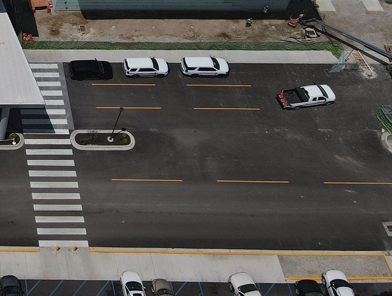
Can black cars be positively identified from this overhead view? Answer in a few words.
Yes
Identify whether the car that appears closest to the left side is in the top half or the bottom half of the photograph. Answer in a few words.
bottom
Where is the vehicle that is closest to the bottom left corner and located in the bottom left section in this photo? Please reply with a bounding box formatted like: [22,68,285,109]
[0,274,23,296]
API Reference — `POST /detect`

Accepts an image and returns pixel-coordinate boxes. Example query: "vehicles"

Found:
[321,267,362,296]
[121,57,172,81]
[151,278,179,296]
[227,271,257,296]
[119,270,145,296]
[294,279,324,296]
[67,59,116,83]
[276,84,337,112]
[180,56,231,81]
[0,274,23,296]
